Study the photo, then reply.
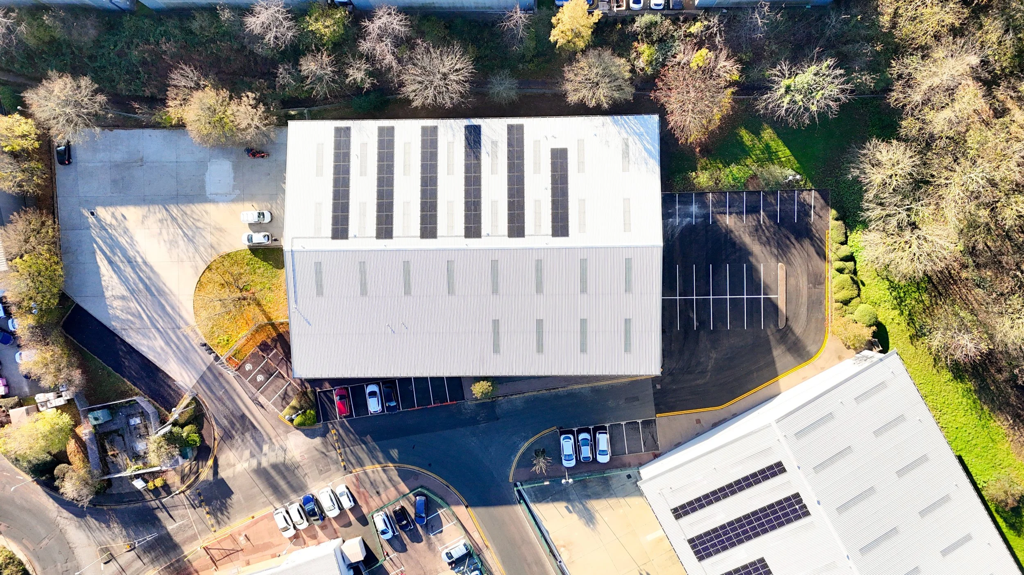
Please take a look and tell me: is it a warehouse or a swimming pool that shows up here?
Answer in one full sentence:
I can see a warehouse in this picture.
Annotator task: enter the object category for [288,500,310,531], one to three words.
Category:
car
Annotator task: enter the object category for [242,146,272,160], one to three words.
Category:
work vehicle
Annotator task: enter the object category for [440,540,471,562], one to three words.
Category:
vehicle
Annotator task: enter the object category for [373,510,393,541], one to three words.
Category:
car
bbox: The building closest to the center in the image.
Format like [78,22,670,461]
[284,112,662,380]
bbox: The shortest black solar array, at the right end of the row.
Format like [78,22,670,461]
[550,148,569,236]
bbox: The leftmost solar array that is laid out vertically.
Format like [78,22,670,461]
[330,126,352,239]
